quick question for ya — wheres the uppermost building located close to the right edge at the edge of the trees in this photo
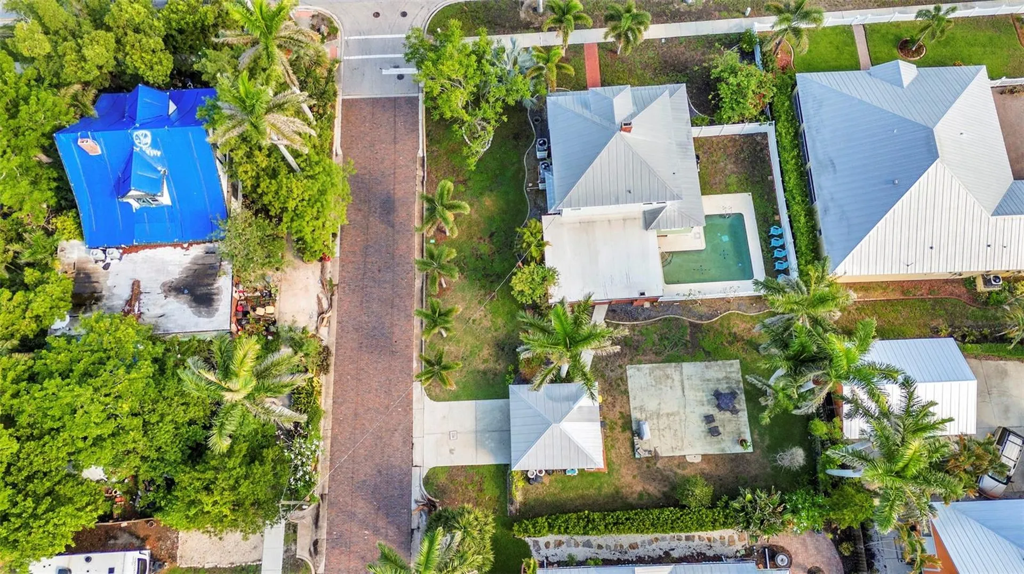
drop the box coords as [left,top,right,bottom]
[795,59,1024,283]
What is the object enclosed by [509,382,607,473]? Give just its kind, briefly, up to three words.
building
